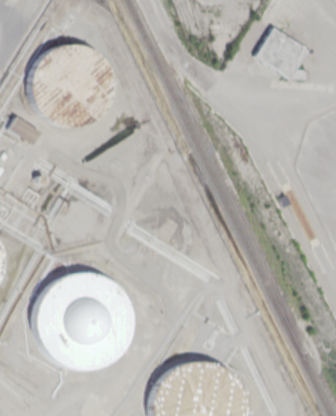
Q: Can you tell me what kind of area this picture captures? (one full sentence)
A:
This looks like an industrial area.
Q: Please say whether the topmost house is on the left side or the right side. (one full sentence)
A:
The topmost house is on the right side of the image.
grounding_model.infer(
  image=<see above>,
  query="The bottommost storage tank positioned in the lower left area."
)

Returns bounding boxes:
[29,272,134,375]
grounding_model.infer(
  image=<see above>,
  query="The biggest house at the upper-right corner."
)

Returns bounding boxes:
[254,26,309,82]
